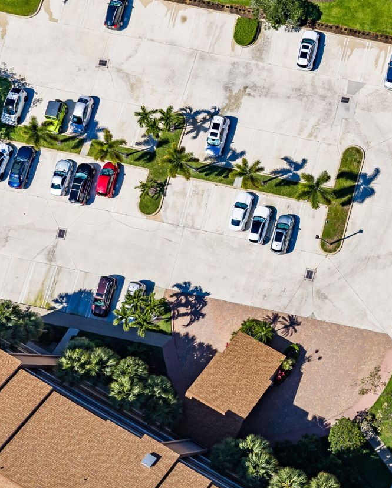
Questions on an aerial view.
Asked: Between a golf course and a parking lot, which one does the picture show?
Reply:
parking lot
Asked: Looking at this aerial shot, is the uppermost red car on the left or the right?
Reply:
left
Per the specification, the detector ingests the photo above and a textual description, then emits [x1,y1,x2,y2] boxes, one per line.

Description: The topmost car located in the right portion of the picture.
[296,30,319,71]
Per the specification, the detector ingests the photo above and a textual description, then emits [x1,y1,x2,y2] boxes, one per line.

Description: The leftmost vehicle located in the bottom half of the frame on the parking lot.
[91,276,118,317]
